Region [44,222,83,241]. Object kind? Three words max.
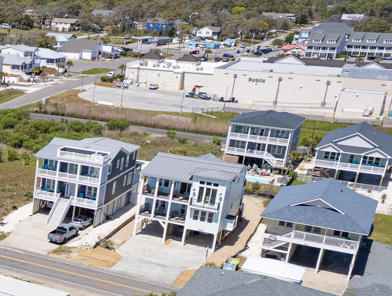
vehicle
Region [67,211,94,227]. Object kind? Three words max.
car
